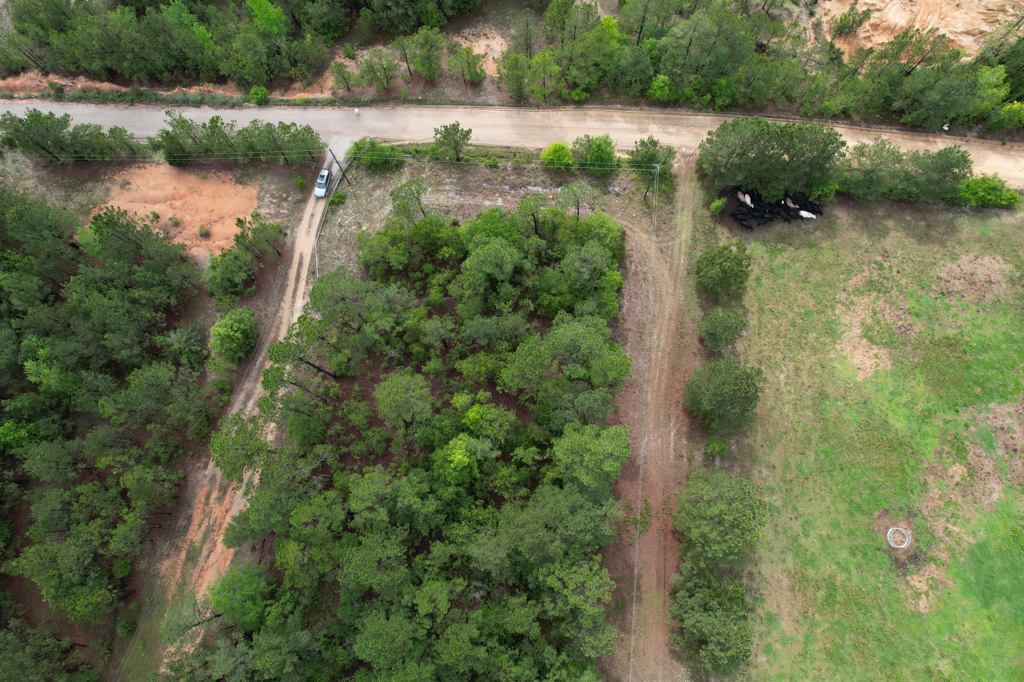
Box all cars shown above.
[314,168,332,199]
